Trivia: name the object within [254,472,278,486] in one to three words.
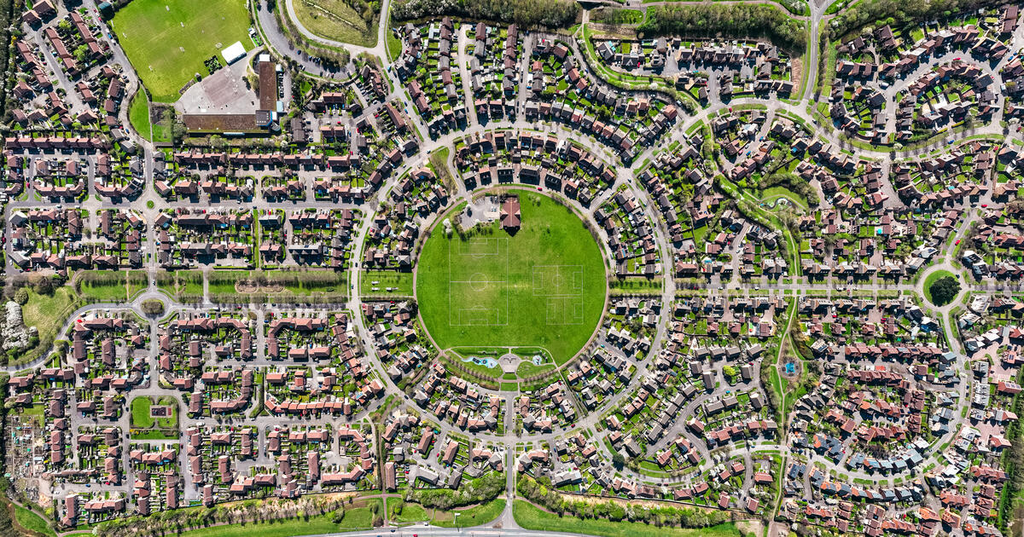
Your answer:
house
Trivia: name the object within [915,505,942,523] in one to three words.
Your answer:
house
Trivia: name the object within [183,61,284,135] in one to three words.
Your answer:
building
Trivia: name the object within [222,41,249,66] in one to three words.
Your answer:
building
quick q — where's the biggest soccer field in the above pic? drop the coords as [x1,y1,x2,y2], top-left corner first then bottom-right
[448,236,509,326]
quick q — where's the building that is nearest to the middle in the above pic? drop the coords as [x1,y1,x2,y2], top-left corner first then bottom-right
[499,196,521,229]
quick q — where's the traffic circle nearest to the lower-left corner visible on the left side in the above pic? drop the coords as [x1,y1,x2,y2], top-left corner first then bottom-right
[135,288,170,323]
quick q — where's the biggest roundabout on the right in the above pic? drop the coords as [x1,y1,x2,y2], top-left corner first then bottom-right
[917,263,967,313]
